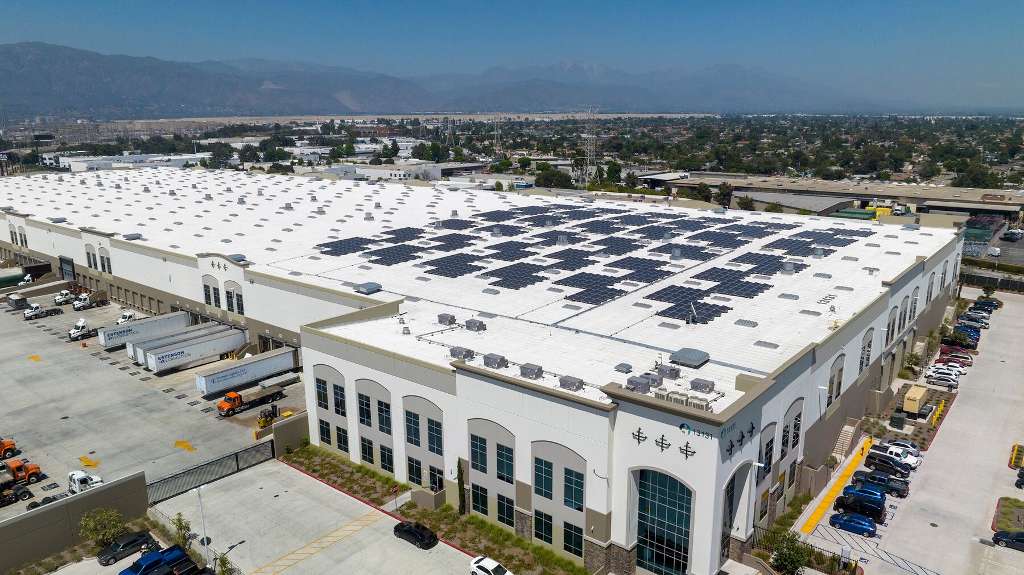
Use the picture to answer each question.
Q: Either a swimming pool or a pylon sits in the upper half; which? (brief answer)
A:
pylon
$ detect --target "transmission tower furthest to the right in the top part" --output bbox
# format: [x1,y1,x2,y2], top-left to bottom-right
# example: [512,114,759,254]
[578,105,604,186]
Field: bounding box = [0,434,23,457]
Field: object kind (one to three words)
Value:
truck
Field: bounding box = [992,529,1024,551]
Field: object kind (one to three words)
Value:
car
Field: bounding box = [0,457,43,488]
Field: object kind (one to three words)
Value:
truck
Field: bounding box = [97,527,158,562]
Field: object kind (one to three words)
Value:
car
